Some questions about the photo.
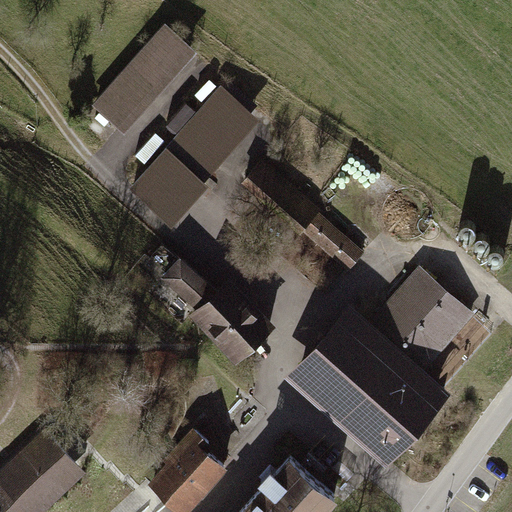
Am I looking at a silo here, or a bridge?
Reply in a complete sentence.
It is a silo that can be seen here.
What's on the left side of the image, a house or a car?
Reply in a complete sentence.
There is a house on the left side of the image.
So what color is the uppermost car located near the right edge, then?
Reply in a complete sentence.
The color of the uppermost car located near the right edge is blue.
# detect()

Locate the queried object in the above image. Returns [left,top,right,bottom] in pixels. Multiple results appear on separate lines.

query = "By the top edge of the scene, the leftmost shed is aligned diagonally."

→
[92,24,197,134]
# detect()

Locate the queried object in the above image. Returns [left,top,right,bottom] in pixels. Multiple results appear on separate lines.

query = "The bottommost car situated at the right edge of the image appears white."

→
[468,482,491,502]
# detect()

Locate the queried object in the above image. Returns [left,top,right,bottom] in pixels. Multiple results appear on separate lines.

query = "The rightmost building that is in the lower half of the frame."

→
[386,266,473,352]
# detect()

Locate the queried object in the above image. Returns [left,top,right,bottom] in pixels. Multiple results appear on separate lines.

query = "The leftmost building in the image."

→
[0,432,86,512]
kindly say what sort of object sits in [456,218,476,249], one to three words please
silo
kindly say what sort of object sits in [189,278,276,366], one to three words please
house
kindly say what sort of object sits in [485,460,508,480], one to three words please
car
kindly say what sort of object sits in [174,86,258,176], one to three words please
barn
